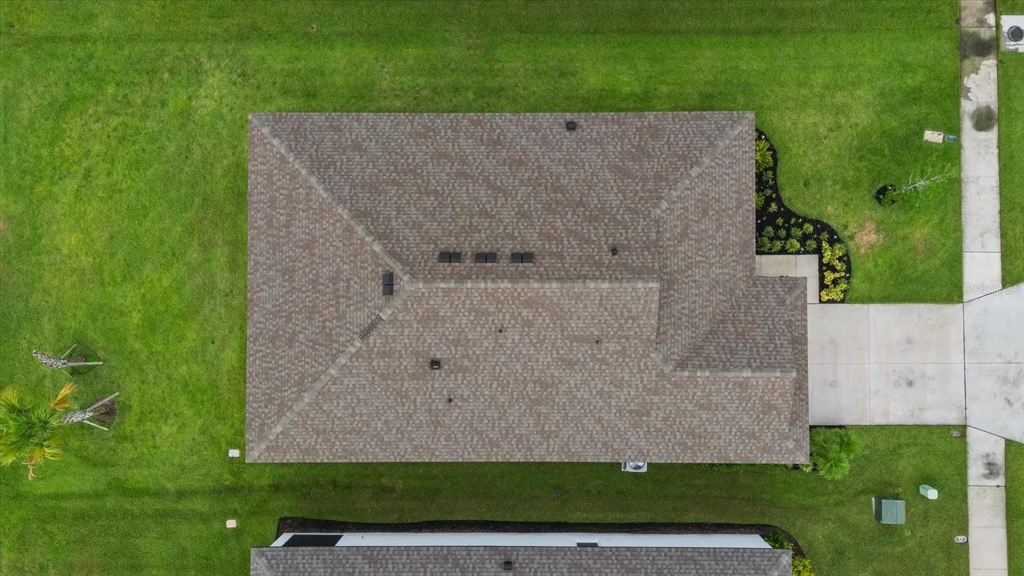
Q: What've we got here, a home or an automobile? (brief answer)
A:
home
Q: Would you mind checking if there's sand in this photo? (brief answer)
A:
No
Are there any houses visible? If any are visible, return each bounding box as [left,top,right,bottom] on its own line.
[246,111,809,463]
[251,532,792,576]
